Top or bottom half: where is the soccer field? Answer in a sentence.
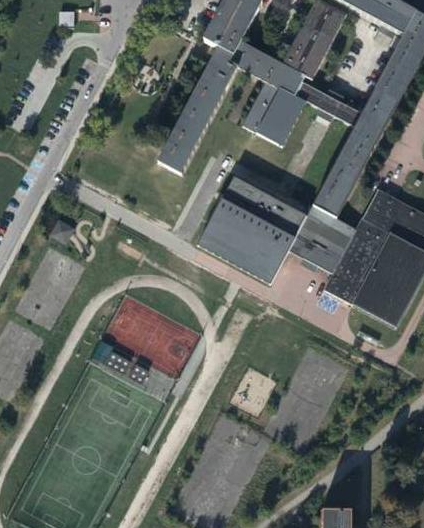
Seen from above, the soccer field lies in the bottom half of the view.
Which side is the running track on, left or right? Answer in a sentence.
The running track appears in the left half of the scene.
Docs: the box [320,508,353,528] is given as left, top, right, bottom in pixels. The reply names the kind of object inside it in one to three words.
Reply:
building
